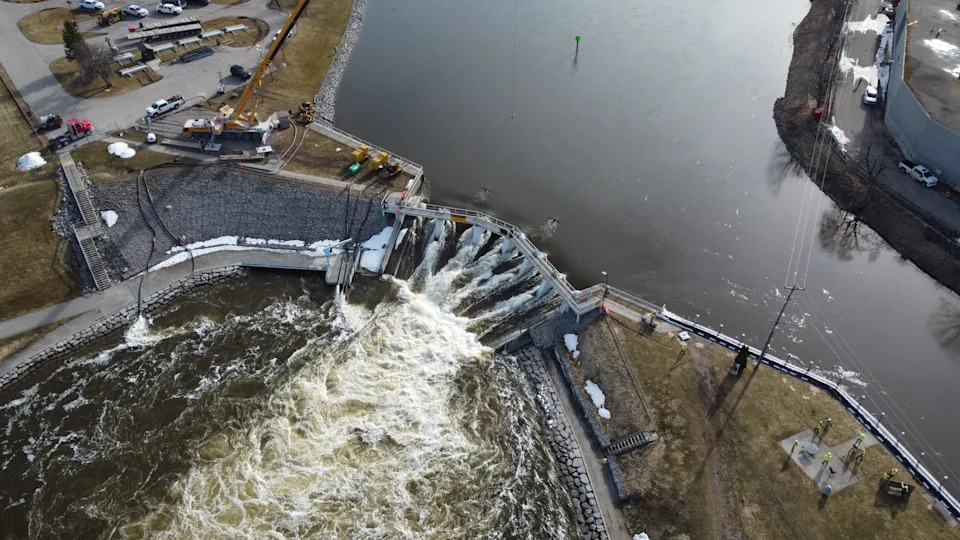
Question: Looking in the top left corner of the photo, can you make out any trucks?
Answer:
Yes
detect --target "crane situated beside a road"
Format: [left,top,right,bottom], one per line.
[184,0,308,144]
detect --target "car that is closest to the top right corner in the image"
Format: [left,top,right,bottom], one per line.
[864,83,881,104]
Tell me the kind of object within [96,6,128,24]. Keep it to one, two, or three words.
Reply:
work vehicle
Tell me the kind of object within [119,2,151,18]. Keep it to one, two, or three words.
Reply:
vehicle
